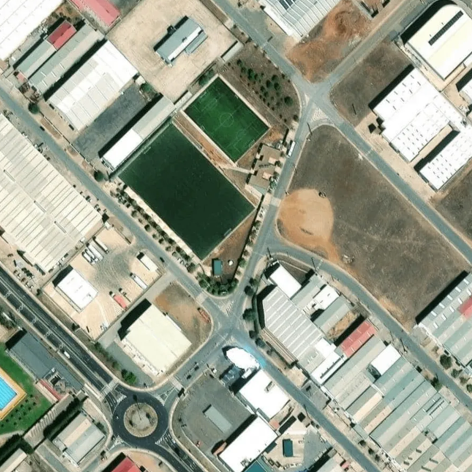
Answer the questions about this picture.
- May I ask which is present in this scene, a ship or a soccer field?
soccer field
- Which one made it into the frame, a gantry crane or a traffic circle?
traffic circle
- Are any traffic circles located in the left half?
Yes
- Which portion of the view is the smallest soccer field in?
top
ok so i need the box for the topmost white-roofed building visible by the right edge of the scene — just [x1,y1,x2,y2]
[404,5,472,80]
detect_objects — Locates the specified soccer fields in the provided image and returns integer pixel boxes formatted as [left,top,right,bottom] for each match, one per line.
[179,73,273,165]
[111,119,260,266]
